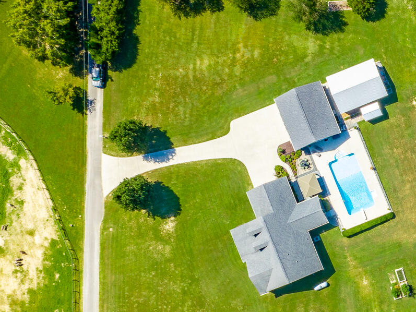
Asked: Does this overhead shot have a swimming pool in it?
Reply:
Yes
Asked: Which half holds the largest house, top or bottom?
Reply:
bottom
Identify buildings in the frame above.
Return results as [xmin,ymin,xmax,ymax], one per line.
[274,81,342,151]
[229,175,330,296]
[361,102,382,120]
[326,58,388,113]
